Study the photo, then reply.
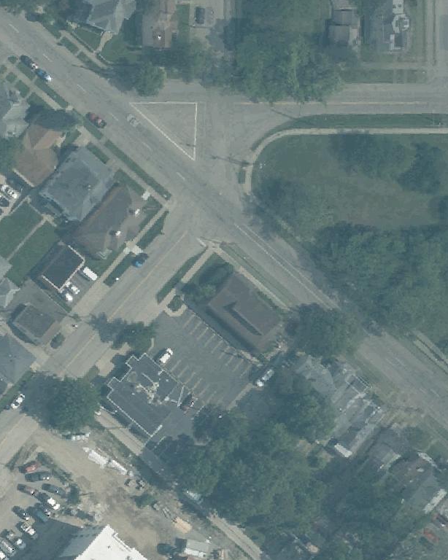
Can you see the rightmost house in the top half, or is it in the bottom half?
bottom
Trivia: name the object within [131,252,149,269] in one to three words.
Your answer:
car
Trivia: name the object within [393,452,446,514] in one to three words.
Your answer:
house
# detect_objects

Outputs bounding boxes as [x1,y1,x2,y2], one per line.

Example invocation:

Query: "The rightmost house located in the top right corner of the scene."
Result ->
[363,0,412,51]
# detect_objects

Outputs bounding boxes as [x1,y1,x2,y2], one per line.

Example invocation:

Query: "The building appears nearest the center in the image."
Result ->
[207,271,286,351]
